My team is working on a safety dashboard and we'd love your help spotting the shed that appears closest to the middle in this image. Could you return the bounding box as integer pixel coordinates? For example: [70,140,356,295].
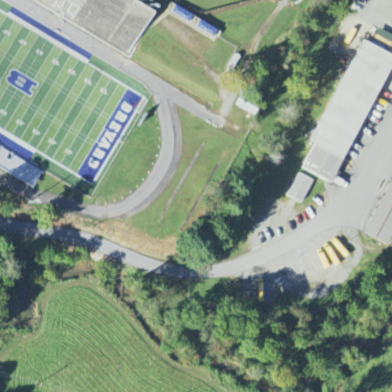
[286,171,316,204]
